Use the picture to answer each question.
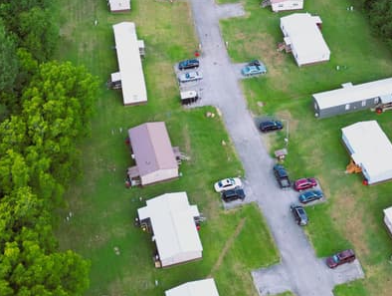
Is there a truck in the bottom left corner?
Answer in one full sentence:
No, there is no truck in the bottom left corner.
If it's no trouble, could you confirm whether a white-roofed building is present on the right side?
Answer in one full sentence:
Yes, on the right side there is a white-roofed building.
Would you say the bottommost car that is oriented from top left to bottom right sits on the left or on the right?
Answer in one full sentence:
The bottommost car that is oriented from top left to bottom right is on the right side of the image.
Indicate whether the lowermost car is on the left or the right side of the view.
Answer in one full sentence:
You can find the lowermost car on the right side of the picture.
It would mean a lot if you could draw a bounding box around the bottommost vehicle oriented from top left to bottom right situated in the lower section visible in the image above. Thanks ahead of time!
[287,200,309,228]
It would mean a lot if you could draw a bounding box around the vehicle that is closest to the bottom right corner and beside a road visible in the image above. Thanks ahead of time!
[326,248,356,269]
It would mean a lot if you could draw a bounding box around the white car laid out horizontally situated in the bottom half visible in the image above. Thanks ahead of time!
[213,176,242,192]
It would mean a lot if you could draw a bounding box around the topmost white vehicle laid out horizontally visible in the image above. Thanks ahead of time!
[177,70,206,84]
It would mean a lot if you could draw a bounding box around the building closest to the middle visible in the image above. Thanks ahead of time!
[126,122,187,188]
